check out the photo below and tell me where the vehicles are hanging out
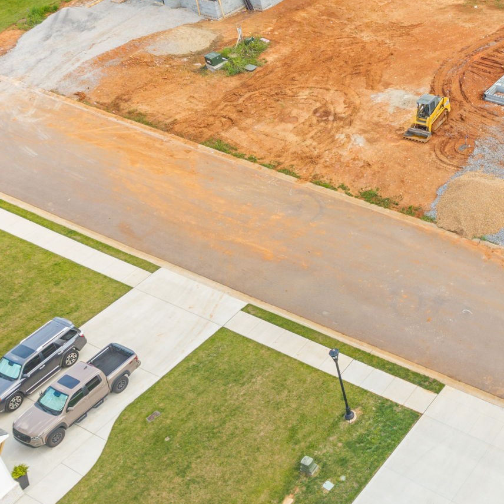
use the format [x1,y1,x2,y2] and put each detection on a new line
[0,317,88,418]
[5,346,133,456]
[404,95,450,140]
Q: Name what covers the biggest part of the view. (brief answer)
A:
paved ground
